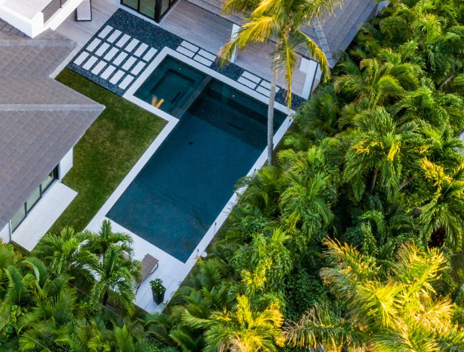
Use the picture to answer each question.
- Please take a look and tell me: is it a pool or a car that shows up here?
pool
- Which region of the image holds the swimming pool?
center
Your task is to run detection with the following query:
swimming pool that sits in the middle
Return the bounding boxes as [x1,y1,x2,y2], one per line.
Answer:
[69,46,301,327]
